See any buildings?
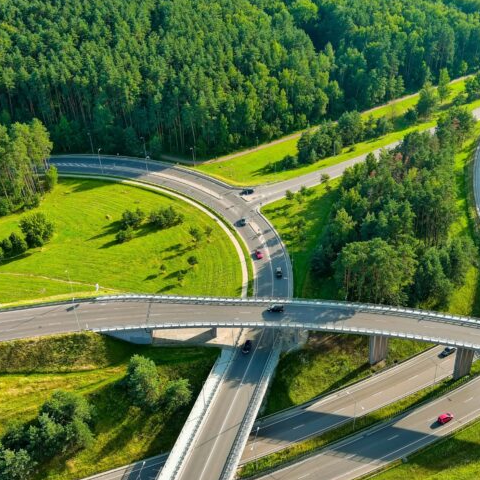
No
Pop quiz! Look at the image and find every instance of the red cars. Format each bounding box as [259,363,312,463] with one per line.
[435,413,453,425]
[254,249,262,259]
